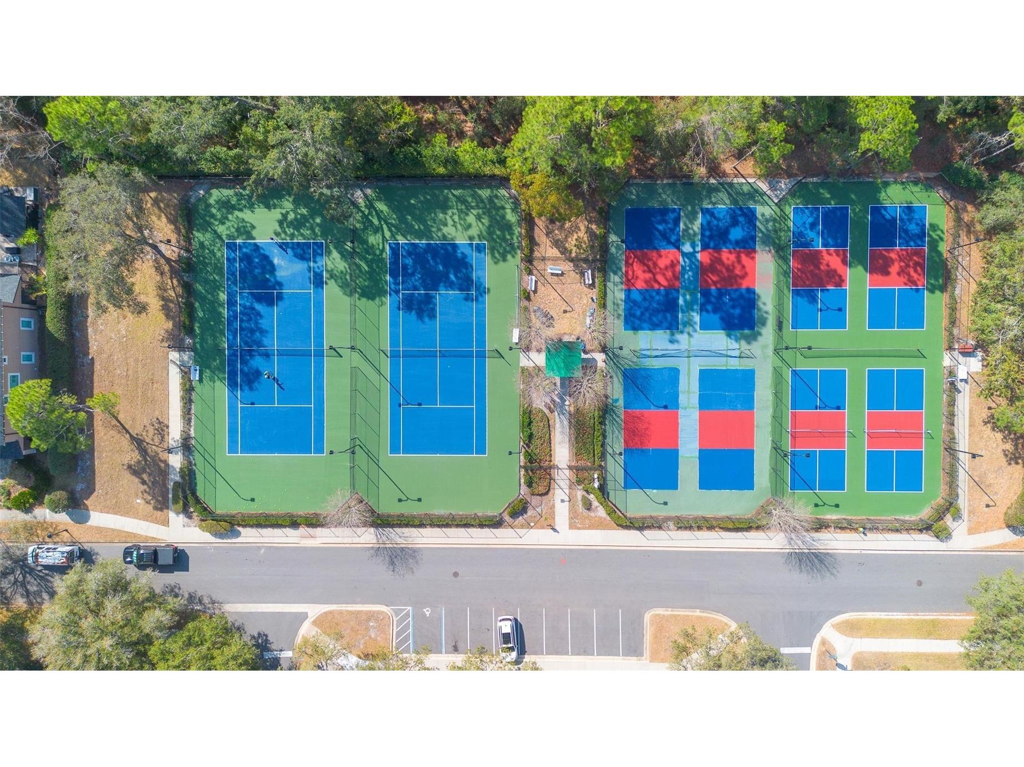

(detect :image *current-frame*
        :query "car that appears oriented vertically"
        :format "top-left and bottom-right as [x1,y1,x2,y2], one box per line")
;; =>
[498,616,518,660]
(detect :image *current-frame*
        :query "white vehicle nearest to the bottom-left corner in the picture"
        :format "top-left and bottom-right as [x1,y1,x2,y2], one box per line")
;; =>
[32,543,83,565]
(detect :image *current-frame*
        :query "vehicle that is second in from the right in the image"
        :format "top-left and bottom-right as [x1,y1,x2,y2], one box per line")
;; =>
[125,543,180,566]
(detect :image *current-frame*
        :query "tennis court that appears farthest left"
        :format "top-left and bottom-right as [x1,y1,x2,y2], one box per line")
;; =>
[193,187,358,514]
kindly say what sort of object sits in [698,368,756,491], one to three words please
sports court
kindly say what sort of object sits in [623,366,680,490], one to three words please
sports court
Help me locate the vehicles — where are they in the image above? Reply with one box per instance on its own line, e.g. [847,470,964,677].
[498,616,518,660]
[125,543,180,566]
[32,543,83,565]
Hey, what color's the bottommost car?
white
